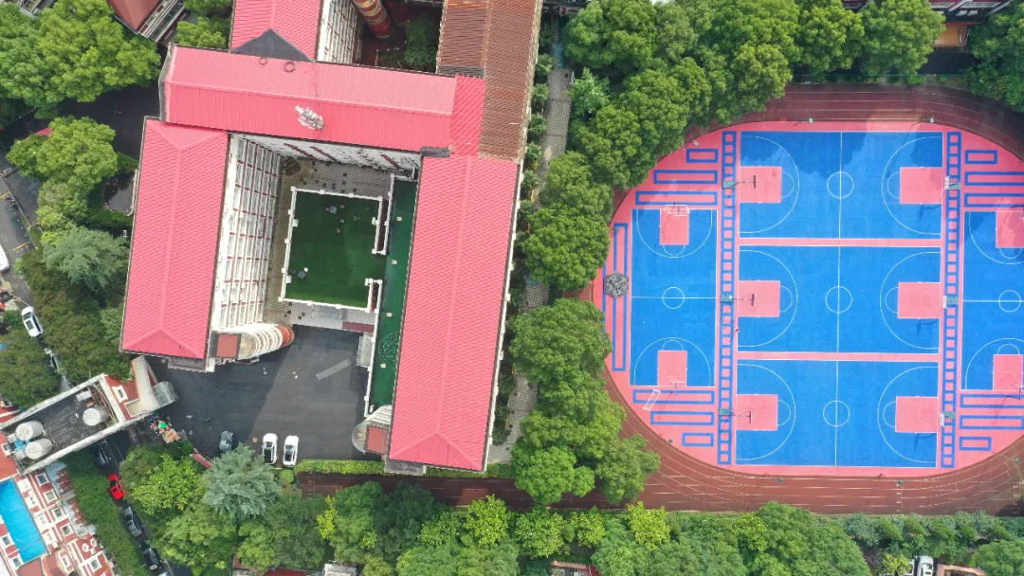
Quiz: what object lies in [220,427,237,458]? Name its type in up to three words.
car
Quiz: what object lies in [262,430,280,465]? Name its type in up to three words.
car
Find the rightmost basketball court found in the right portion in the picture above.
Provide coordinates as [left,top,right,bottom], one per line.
[960,211,1024,391]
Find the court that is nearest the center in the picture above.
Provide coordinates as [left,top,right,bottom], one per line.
[630,208,718,387]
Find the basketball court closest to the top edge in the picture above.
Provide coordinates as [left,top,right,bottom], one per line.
[739,131,943,239]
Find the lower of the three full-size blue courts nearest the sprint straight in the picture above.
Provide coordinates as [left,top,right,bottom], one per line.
[736,359,940,468]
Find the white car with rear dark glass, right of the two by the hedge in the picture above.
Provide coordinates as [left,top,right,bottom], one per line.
[283,433,300,467]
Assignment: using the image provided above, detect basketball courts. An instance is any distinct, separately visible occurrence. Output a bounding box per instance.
[737,246,941,354]
[736,359,940,468]
[739,131,943,239]
[960,211,1024,391]
[630,208,718,387]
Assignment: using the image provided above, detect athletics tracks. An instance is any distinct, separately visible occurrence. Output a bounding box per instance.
[300,77,1024,518]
